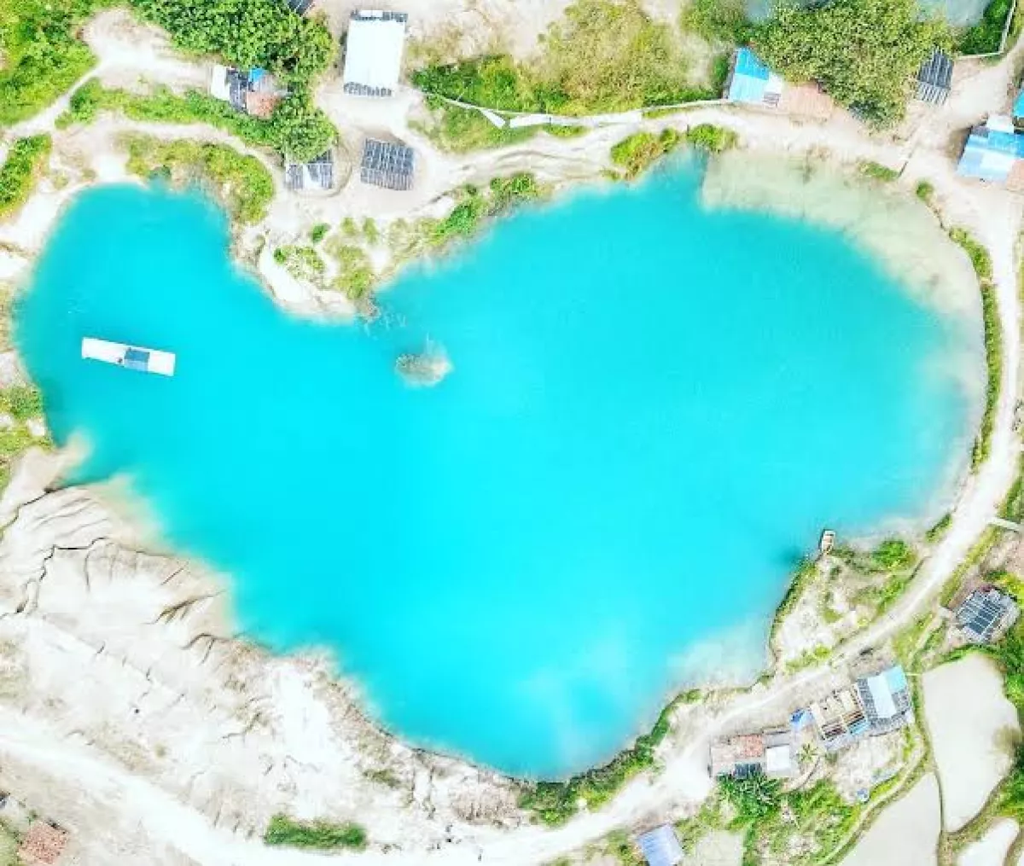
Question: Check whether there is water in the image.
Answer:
Yes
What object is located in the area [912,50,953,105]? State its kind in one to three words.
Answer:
shed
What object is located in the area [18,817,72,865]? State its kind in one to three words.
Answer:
house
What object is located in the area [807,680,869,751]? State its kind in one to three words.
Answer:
house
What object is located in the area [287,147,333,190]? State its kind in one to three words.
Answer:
shed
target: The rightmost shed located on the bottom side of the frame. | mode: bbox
[951,587,1017,642]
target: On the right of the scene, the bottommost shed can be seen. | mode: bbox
[637,821,683,866]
